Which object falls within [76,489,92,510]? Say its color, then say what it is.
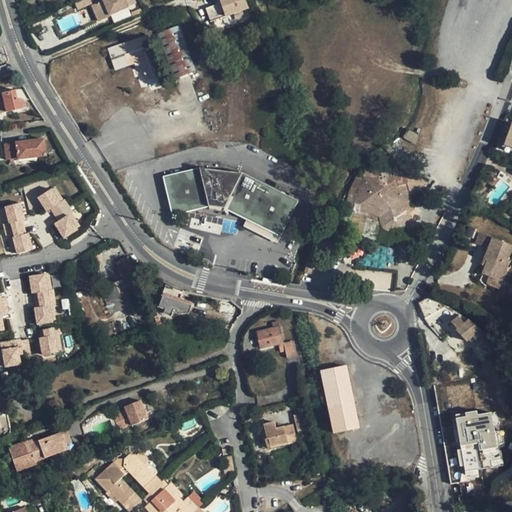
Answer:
blue swimming pool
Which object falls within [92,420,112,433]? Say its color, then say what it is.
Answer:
green swimming pool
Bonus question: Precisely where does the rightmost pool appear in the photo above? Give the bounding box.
[488,181,510,205]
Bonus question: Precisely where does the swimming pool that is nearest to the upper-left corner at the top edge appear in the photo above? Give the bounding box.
[56,12,78,33]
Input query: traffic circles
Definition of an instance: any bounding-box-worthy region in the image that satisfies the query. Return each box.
[354,296,413,354]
